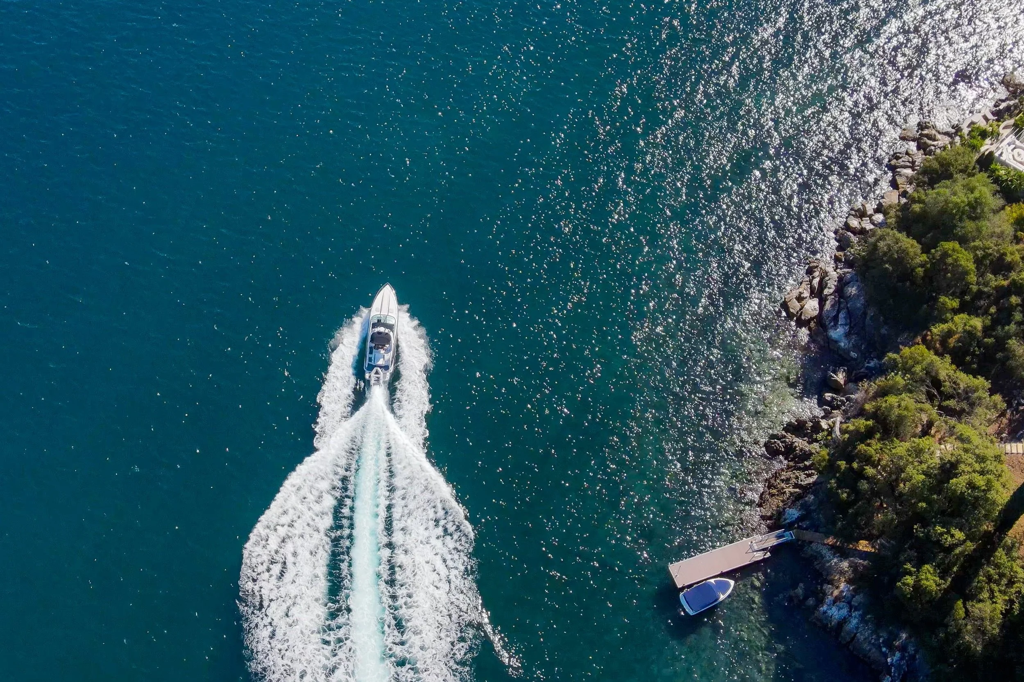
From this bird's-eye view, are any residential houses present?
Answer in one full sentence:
No, there appears to be no residential house in this shot.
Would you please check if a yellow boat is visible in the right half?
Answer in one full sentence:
No, there is no yellow boat in the right half.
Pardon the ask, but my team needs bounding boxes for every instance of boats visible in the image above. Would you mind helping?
[680,574,735,617]
[364,282,398,381]
[371,366,384,387]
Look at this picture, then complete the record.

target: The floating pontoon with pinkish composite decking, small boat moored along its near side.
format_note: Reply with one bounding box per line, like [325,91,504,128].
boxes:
[668,535,770,588]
